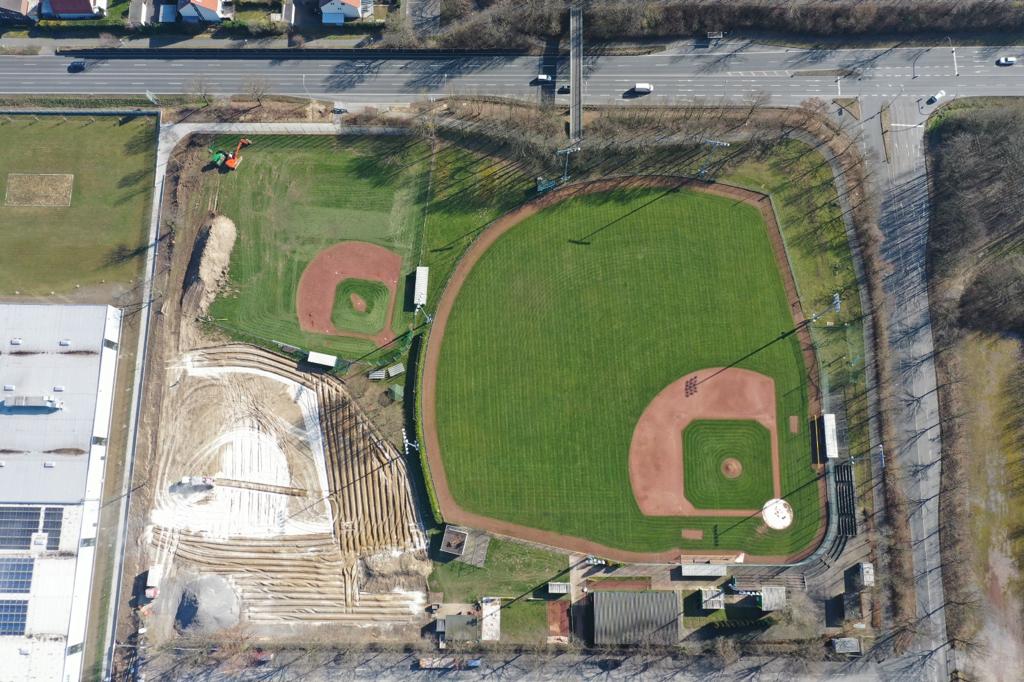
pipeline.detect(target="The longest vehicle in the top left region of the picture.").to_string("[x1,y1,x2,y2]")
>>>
[224,140,252,173]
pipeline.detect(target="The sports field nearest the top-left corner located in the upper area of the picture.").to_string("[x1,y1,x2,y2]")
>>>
[4,174,74,206]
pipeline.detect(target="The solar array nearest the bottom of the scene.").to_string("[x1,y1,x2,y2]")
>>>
[0,601,30,635]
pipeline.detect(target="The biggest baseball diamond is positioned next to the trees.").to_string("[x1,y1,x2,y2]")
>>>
[422,175,828,565]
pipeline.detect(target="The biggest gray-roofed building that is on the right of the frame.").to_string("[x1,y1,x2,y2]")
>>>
[592,591,680,644]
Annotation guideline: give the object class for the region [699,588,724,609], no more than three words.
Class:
shed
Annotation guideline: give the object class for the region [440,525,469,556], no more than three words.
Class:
building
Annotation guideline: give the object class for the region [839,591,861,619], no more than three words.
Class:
shed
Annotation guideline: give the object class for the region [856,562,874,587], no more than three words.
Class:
building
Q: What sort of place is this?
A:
sports ground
